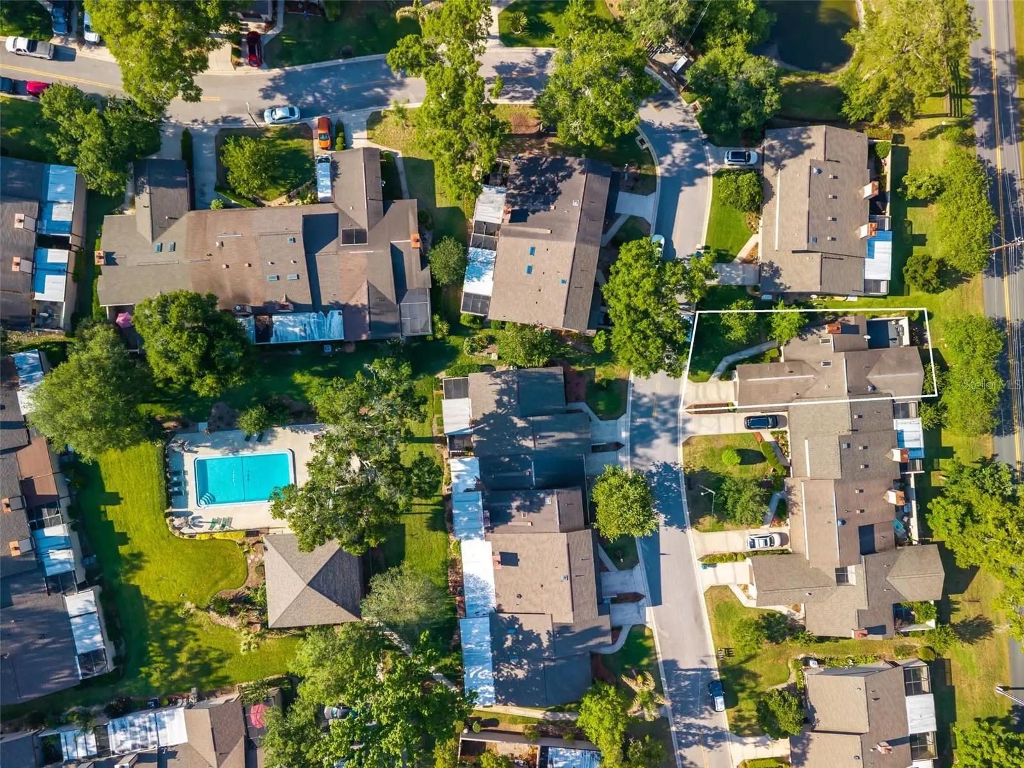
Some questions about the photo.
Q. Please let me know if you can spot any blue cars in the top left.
Yes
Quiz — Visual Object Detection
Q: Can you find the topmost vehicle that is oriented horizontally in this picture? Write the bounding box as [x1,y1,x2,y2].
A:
[6,36,54,61]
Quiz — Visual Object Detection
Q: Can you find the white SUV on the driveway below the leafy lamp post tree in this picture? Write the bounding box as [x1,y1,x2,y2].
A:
[746,533,781,551]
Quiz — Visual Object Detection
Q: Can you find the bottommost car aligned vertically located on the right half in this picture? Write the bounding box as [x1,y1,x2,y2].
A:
[707,677,727,713]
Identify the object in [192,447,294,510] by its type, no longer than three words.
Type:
swimming pool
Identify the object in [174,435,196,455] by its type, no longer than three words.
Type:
umbrella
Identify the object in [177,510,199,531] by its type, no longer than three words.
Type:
umbrella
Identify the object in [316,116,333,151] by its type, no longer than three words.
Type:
car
